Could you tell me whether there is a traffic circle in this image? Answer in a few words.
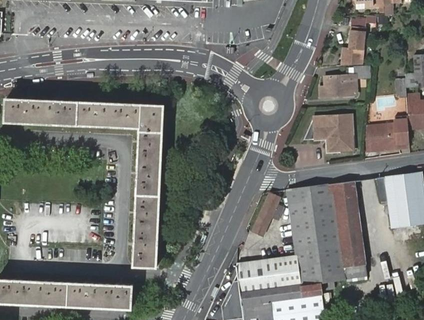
Yes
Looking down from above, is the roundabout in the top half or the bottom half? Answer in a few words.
top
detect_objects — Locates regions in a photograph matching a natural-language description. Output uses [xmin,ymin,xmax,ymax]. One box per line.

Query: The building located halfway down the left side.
[3,98,164,270]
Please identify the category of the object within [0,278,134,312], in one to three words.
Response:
building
